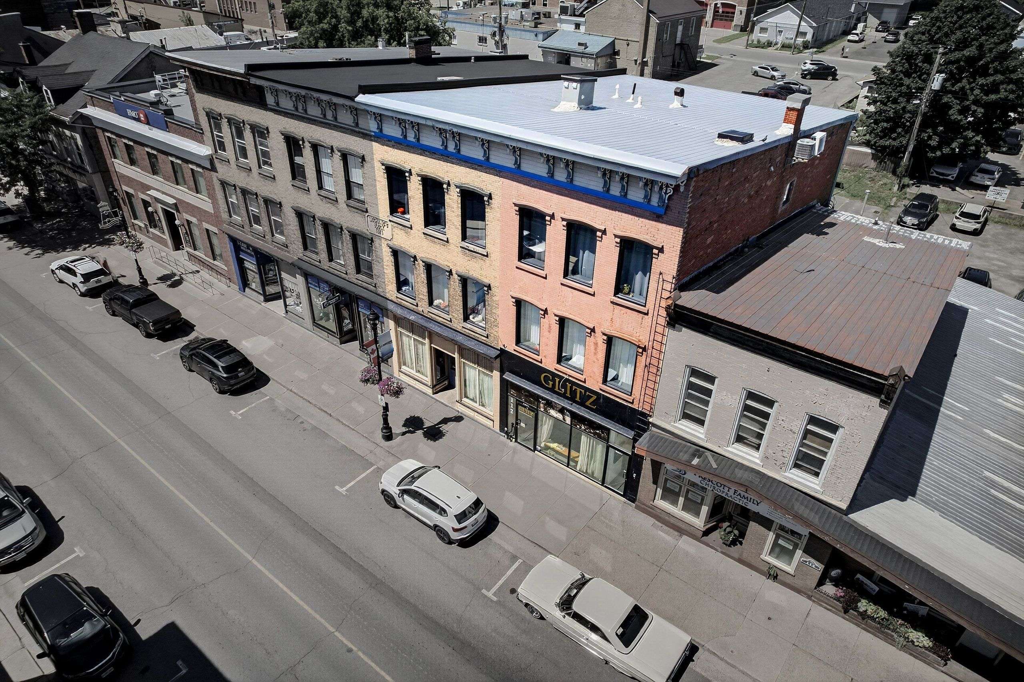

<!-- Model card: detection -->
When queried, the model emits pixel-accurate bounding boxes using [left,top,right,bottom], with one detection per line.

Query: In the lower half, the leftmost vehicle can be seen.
[0,473,53,570]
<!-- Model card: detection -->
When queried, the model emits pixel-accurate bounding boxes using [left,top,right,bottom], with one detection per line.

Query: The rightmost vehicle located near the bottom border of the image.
[517,555,695,682]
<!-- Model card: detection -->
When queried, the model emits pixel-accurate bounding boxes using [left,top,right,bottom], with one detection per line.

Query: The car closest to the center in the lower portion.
[379,460,489,545]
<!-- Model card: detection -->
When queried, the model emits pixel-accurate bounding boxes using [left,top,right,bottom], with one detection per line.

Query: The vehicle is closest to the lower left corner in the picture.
[10,565,142,682]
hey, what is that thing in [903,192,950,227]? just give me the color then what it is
black car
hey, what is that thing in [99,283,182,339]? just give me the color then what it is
black truck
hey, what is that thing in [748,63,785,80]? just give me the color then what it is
gray car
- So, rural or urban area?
urban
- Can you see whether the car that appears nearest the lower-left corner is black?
Yes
